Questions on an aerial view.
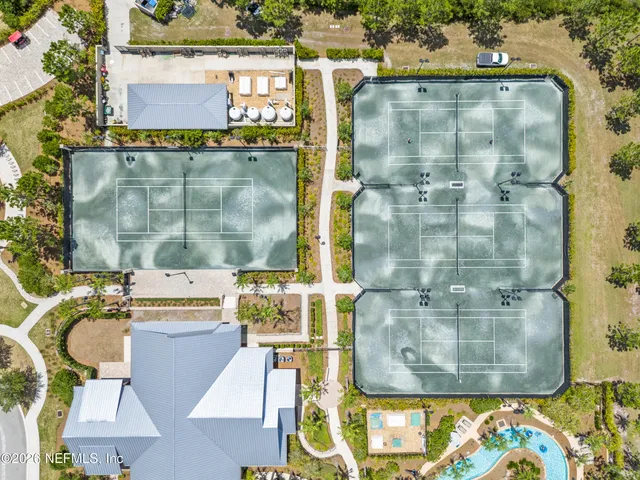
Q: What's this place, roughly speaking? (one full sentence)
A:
What you see here is a sports ground.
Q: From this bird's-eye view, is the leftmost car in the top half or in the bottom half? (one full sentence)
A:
Seen from above, the leftmost car lies in the top half of the view.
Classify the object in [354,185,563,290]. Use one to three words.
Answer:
tennis court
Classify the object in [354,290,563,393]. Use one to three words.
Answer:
tennis court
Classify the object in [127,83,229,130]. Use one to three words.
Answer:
shed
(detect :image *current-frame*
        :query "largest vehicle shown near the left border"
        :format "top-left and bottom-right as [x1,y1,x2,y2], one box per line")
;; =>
[6,28,28,51]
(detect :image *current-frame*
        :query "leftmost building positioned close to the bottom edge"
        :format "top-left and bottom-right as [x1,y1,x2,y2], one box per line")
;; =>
[62,321,296,480]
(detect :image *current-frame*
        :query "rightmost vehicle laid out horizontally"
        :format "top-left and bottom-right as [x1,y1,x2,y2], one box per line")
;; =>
[476,51,511,65]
